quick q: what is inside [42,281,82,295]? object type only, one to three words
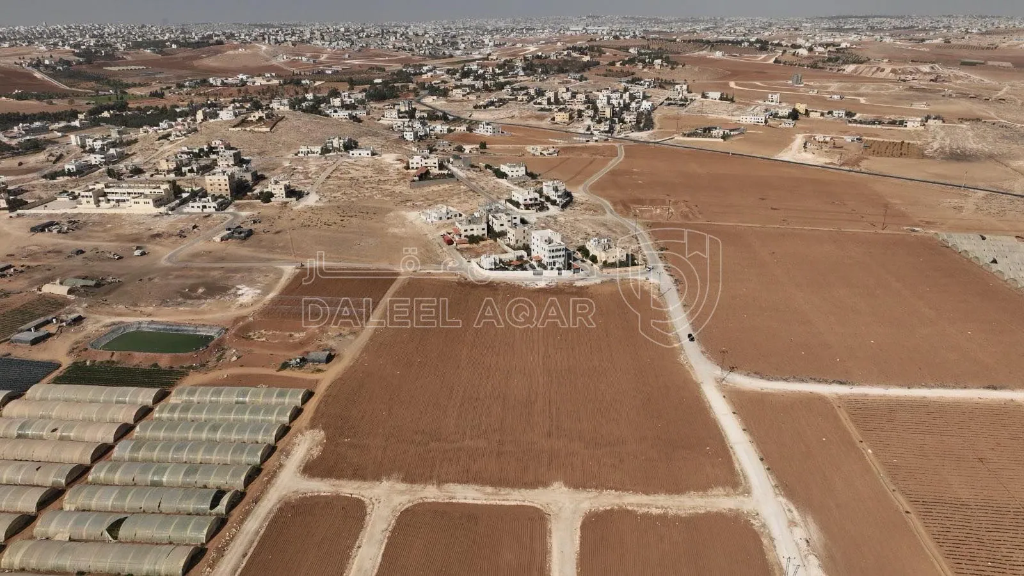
shed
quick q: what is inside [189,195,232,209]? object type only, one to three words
house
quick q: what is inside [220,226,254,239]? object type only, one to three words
building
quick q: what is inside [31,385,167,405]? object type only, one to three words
greenhouse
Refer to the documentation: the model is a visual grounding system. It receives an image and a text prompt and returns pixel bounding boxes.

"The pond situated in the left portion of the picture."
[80,323,235,360]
